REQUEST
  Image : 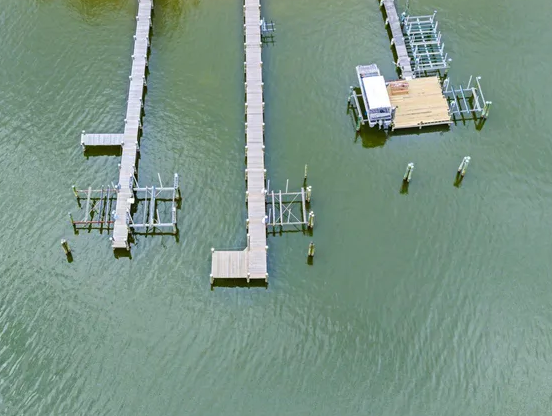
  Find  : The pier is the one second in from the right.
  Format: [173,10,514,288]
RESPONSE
[209,0,269,285]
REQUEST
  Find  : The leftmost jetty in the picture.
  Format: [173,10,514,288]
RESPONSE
[81,0,154,254]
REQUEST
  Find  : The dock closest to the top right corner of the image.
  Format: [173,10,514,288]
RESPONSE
[378,0,453,136]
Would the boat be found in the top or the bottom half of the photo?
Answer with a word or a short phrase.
top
